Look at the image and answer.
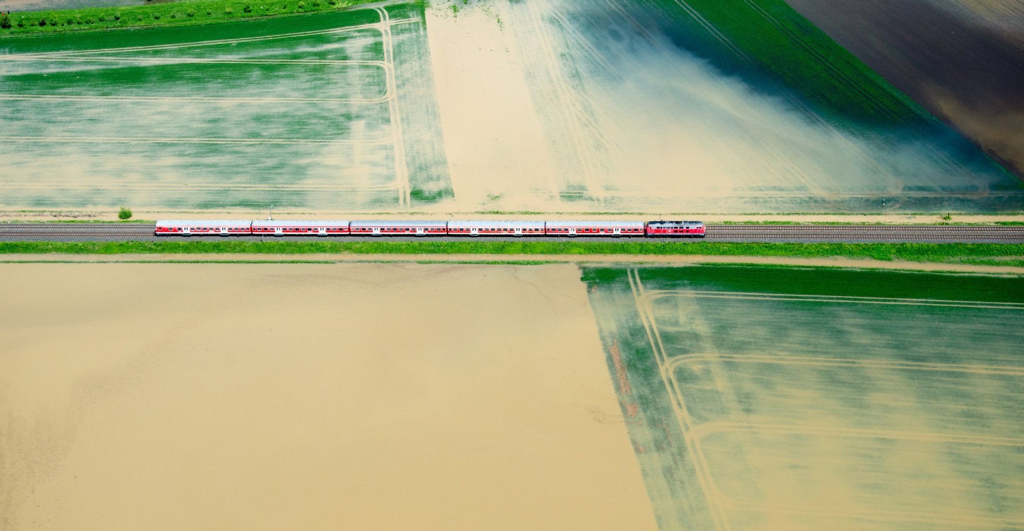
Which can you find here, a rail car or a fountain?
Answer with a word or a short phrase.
rail car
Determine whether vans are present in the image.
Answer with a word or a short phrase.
No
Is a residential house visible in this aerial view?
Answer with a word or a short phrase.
No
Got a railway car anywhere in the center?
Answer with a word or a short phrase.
Yes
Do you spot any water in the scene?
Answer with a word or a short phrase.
Yes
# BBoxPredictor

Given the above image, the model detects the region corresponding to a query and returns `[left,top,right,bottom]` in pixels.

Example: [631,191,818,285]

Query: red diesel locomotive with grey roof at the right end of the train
[645,220,706,238]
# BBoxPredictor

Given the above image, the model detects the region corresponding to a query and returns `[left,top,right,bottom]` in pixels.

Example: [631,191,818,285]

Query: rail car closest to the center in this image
[447,221,546,237]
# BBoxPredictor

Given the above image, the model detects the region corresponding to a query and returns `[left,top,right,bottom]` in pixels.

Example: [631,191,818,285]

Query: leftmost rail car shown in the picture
[153,220,251,236]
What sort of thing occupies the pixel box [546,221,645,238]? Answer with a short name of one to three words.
rail car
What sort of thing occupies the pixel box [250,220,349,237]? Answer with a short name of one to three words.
rail car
